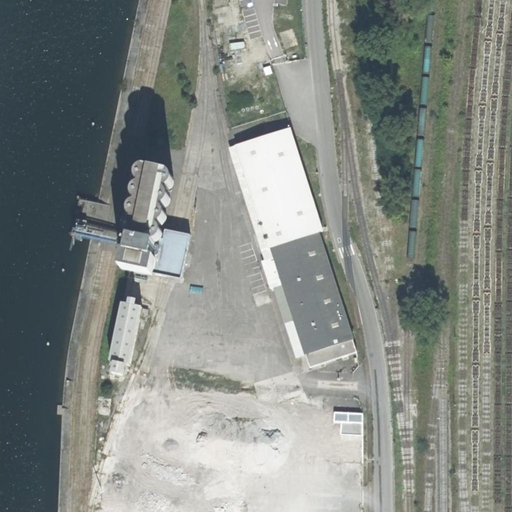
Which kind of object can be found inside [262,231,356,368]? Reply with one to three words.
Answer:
building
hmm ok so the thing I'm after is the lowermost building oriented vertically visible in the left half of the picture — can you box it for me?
[108,296,143,382]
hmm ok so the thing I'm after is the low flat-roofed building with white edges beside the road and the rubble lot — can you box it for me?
[334,412,363,436]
